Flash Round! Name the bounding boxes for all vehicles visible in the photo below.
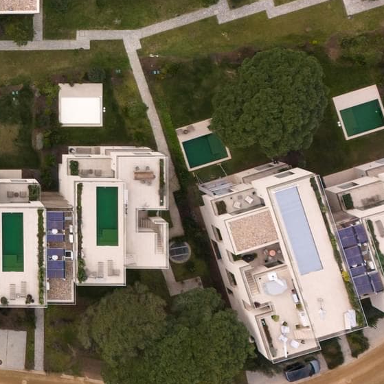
[282,359,322,381]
